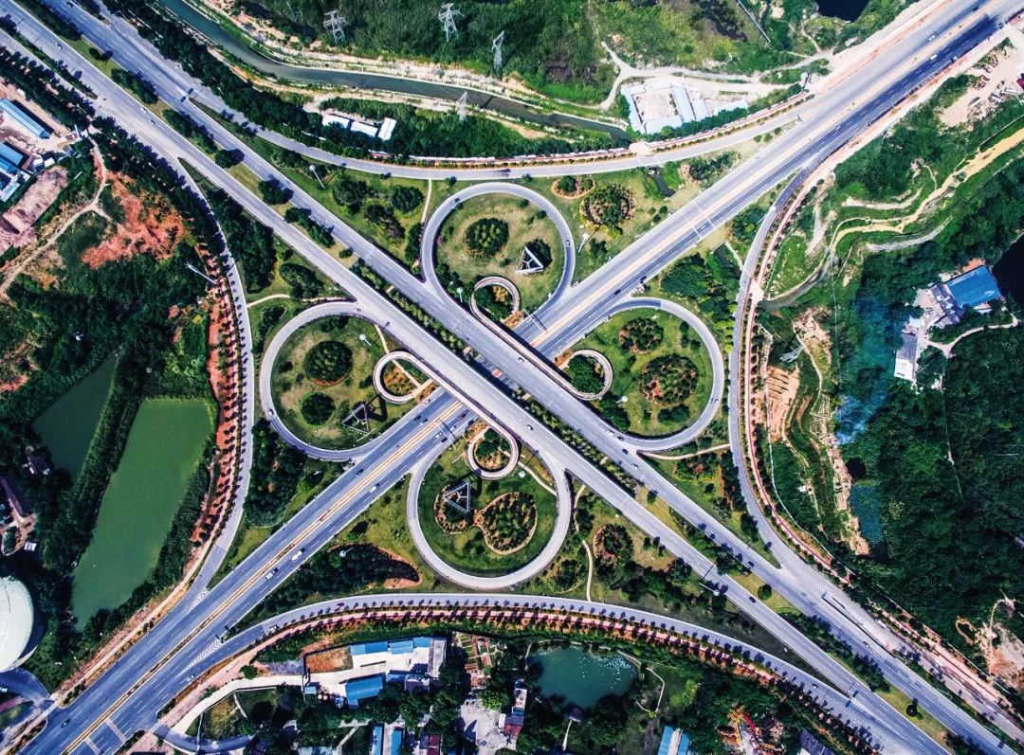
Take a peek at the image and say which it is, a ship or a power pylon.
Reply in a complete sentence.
Of the two, only a power pylon appears.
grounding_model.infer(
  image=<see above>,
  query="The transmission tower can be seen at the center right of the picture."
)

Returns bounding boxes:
[777,341,815,363]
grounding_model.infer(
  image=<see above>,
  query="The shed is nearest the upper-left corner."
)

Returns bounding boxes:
[2,98,54,142]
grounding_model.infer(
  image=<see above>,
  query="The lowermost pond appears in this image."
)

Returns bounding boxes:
[529,646,635,708]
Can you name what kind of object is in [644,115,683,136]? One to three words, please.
building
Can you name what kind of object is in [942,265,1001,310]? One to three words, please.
building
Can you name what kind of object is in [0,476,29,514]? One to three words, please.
house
